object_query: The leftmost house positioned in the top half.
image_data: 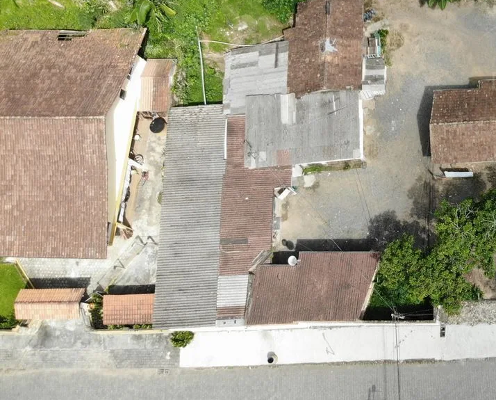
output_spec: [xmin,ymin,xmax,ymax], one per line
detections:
[0,28,148,259]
